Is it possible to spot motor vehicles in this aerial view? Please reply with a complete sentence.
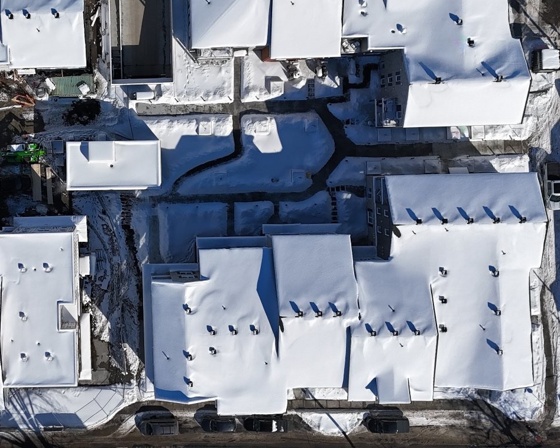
Yes, there's a motor vehicle here.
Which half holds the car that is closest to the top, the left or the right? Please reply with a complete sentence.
It is on the right.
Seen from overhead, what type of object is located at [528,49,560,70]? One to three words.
car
